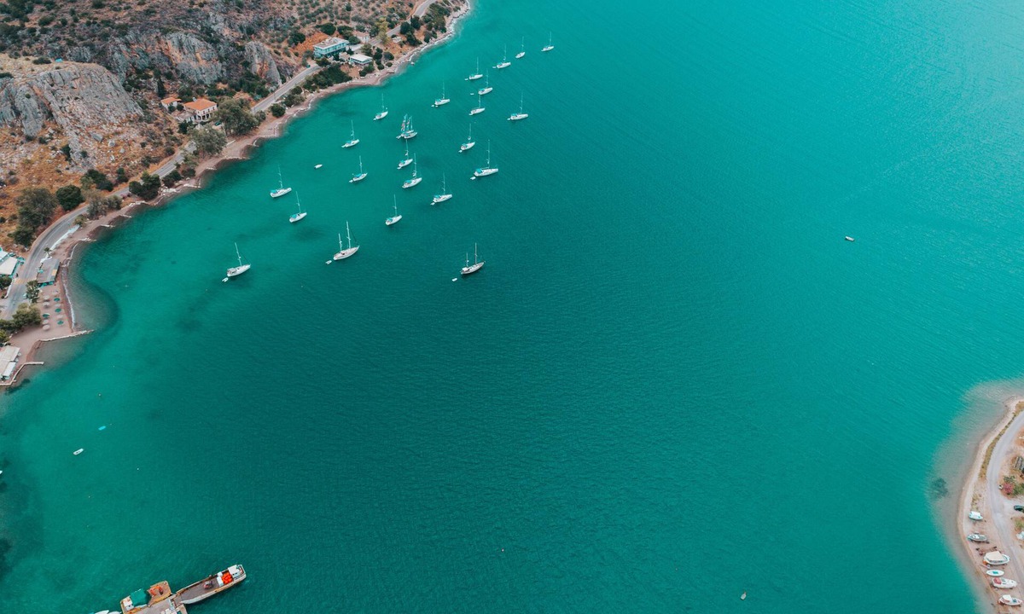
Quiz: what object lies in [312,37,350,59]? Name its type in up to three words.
building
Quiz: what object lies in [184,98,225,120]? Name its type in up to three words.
house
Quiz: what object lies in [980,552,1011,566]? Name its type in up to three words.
boat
